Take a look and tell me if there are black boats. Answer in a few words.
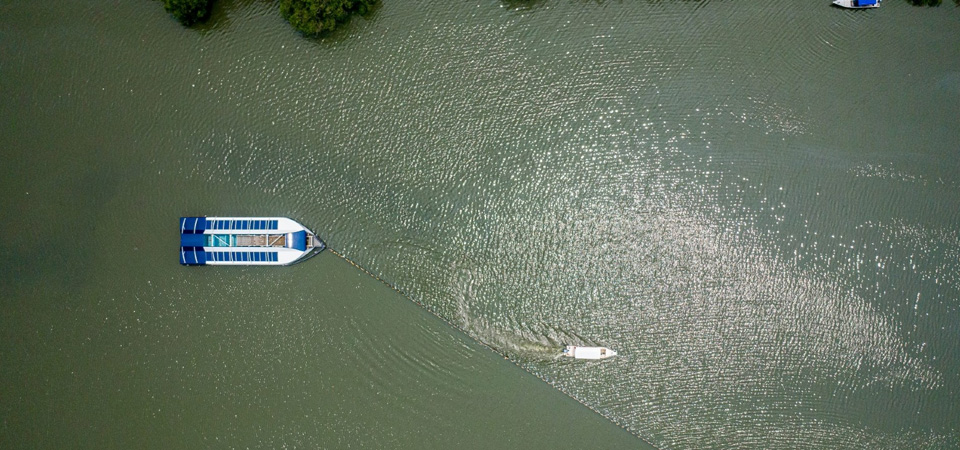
No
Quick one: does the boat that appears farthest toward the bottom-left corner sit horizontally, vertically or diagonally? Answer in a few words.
horizontally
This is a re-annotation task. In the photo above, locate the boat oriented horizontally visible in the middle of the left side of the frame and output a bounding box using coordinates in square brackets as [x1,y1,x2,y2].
[178,216,325,266]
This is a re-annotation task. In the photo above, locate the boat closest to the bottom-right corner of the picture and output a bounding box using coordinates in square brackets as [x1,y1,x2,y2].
[564,346,617,359]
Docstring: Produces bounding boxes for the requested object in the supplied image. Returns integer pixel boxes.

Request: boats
[178,216,325,266]
[564,346,617,359]
[832,0,880,8]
